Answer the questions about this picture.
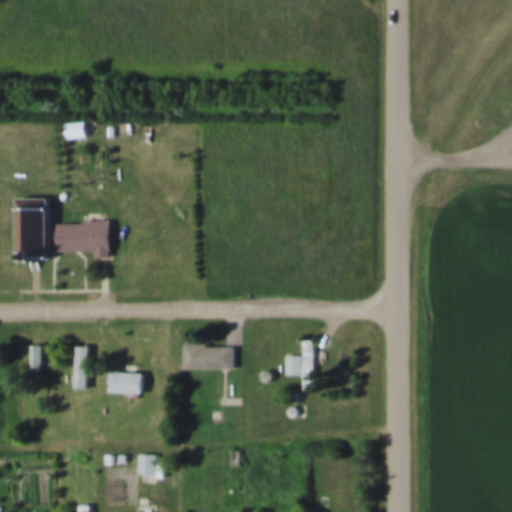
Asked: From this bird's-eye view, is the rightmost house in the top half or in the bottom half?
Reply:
bottom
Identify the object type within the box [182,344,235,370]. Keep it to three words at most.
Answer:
house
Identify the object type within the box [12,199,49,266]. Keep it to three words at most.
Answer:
building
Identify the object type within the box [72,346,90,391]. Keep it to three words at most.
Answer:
house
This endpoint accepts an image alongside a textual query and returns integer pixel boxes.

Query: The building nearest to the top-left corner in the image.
[64,121,92,142]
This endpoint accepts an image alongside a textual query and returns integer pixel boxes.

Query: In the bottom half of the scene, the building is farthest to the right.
[284,340,316,391]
